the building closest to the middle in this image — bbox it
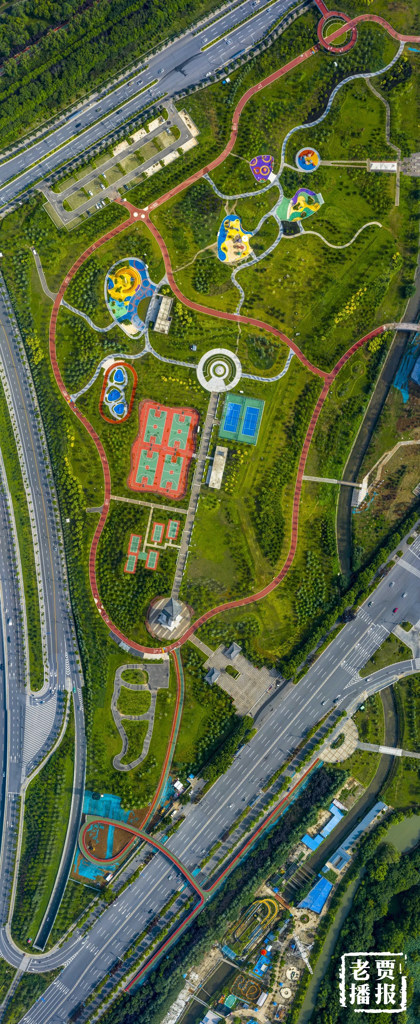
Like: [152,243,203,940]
[209,445,228,489]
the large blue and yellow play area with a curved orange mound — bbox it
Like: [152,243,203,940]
[106,259,156,334]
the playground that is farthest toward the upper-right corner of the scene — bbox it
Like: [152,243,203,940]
[296,147,321,172]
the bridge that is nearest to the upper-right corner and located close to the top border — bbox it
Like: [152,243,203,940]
[317,0,357,50]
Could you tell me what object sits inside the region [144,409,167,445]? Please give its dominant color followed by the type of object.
green basketball court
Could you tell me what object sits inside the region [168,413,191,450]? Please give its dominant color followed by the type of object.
green basketball court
